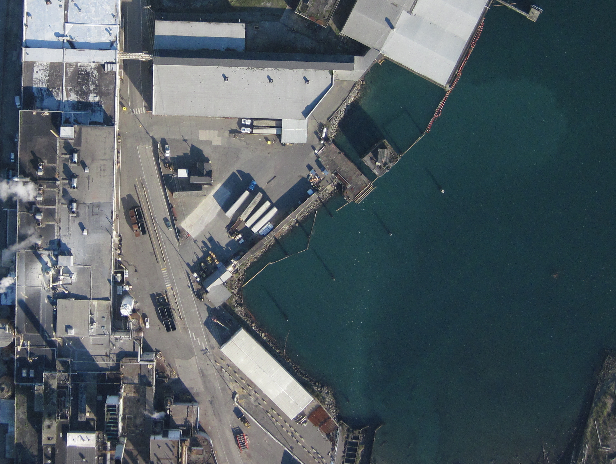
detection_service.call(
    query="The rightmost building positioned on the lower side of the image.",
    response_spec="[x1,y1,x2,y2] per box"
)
[220,325,313,419]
